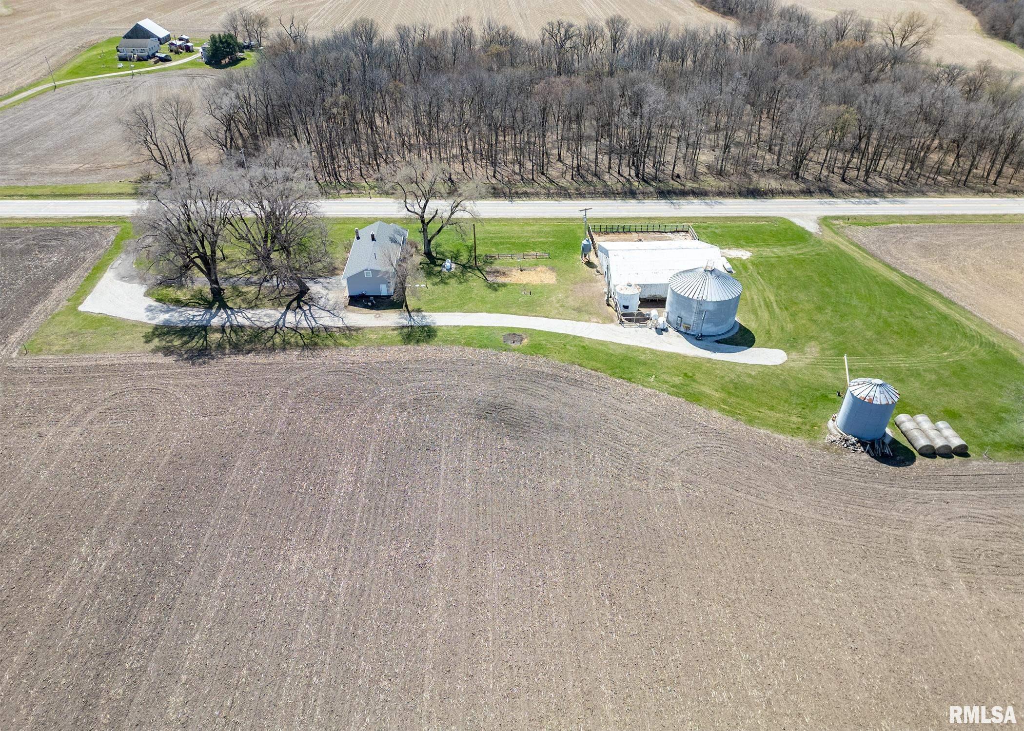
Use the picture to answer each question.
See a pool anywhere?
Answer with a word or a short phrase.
No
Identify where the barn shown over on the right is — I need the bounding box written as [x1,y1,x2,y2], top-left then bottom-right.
[598,239,732,296]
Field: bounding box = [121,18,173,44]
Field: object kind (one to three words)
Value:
barn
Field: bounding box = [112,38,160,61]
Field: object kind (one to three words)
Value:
house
